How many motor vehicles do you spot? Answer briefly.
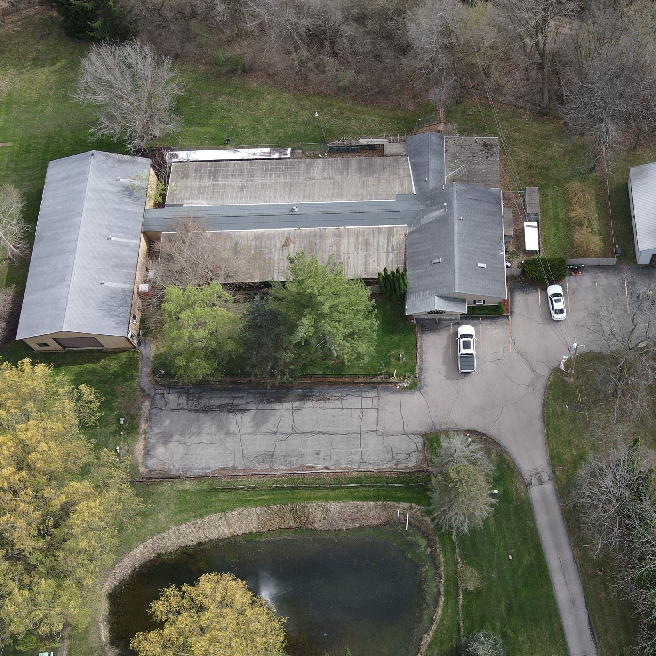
2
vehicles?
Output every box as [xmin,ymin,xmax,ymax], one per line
[545,287,567,323]
[455,325,479,377]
